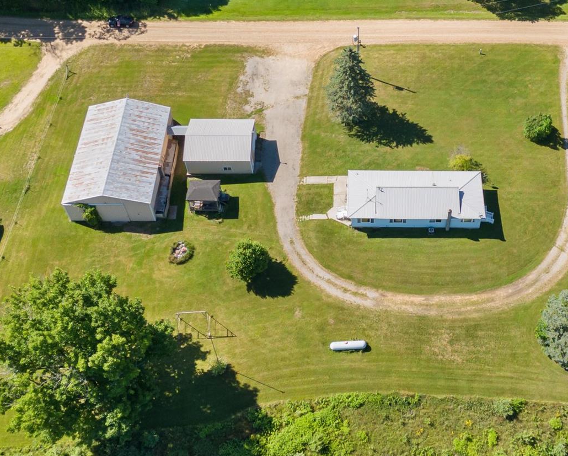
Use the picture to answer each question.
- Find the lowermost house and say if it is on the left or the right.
right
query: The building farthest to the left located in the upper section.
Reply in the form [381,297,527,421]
[63,99,173,224]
